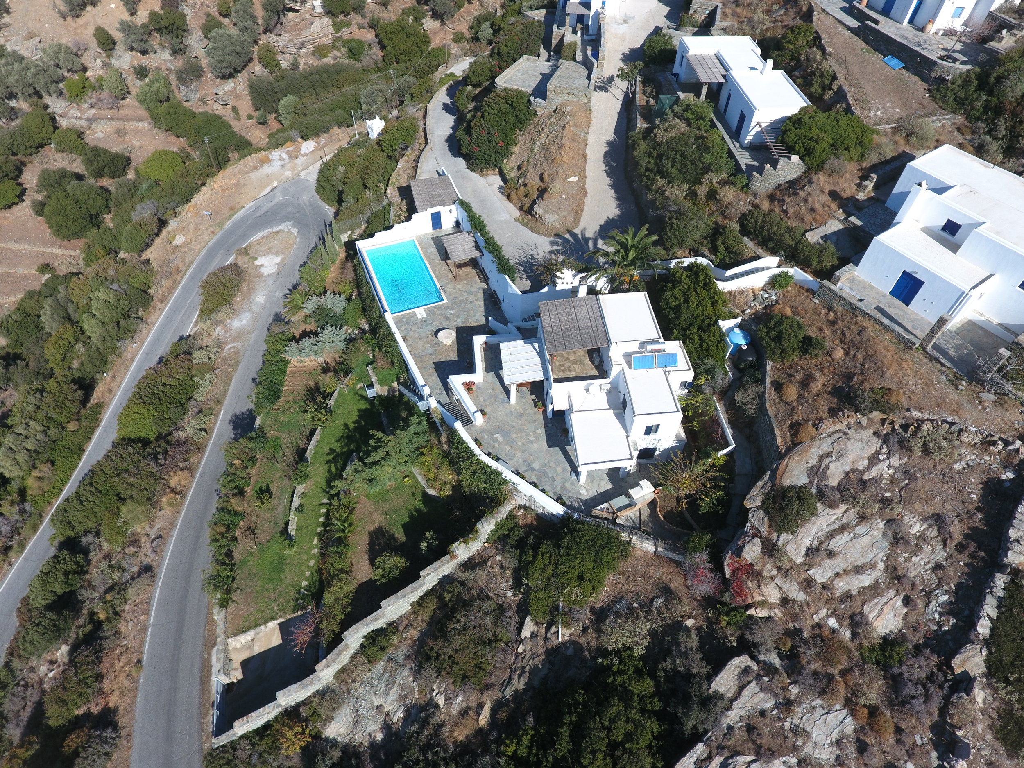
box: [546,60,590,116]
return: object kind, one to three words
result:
building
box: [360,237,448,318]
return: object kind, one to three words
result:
swimming pool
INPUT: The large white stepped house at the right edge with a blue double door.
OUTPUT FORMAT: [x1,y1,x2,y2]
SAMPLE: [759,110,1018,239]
[857,144,1024,332]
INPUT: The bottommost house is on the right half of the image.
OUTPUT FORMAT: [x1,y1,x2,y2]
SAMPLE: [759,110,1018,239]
[538,292,696,483]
